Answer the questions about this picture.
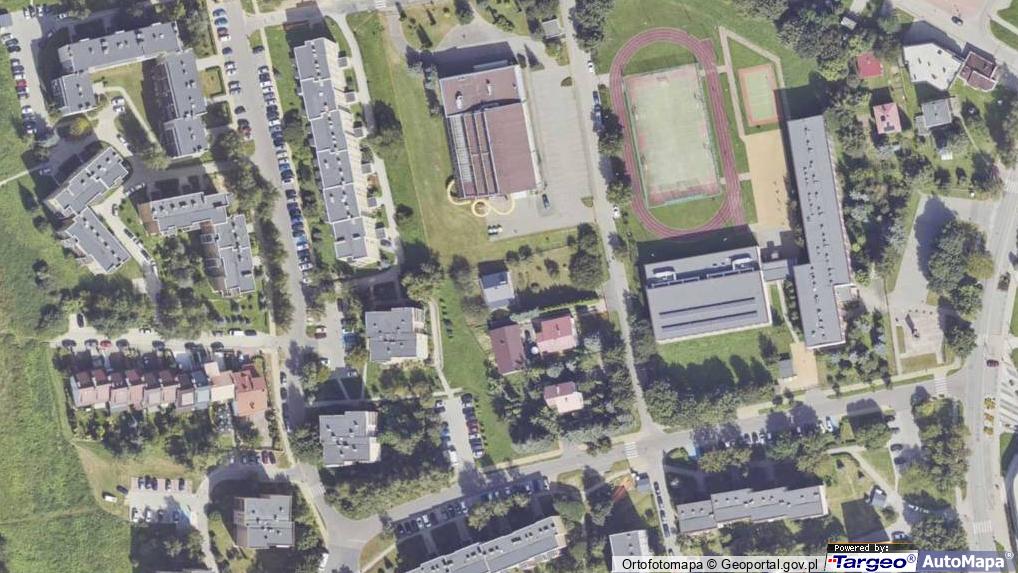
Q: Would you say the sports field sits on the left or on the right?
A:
right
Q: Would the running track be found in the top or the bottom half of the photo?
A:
top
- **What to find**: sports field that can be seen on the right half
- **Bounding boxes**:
[623,65,721,205]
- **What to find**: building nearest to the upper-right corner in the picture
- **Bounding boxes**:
[959,52,1001,96]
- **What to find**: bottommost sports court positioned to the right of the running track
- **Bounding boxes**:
[744,129,791,226]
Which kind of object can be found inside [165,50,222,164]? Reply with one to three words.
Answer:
building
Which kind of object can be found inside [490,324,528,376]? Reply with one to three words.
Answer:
house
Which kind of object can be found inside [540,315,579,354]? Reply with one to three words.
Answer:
house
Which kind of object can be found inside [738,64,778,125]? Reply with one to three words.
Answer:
sports court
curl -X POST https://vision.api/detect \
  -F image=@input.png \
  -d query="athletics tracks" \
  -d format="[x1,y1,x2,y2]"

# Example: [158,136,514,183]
[610,27,745,241]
